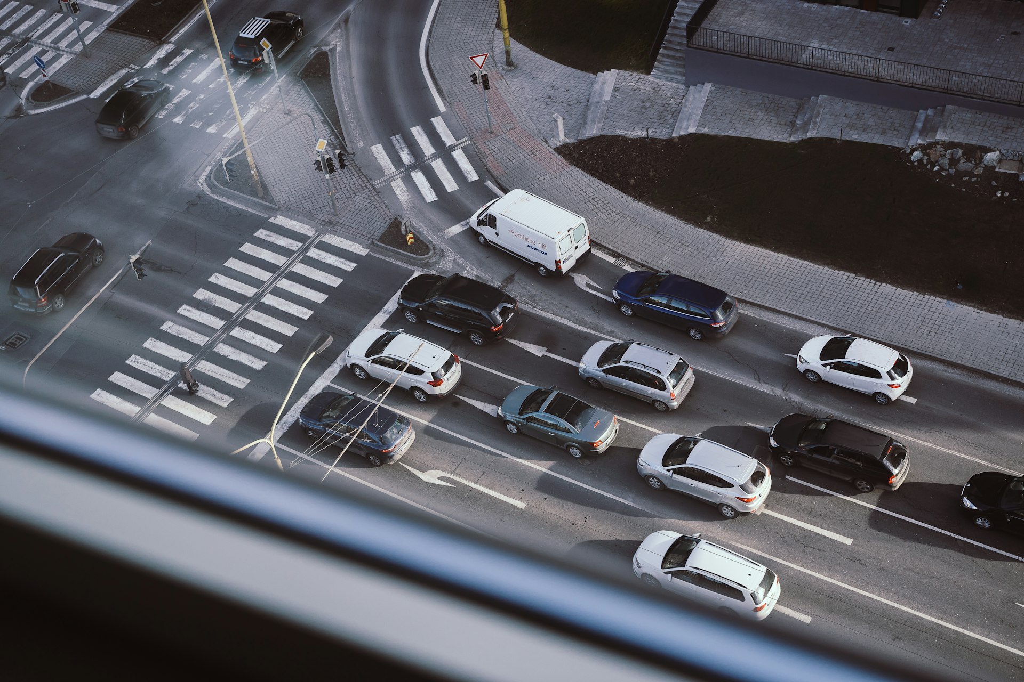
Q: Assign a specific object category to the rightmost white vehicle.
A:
automobile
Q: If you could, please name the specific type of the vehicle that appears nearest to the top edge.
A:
car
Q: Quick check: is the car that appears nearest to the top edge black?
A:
Yes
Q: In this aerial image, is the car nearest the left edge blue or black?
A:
black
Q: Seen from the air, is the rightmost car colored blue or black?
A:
black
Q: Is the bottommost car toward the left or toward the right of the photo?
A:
right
